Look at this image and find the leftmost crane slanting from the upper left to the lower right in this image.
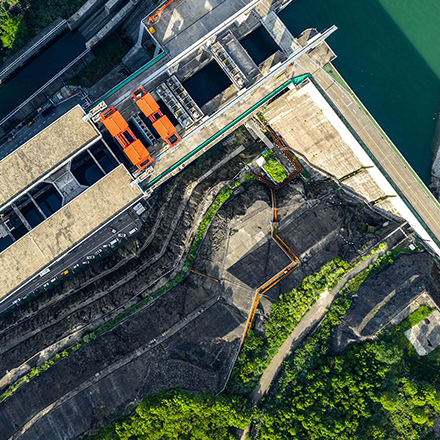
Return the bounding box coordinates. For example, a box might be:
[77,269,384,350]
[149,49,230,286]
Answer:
[98,103,155,175]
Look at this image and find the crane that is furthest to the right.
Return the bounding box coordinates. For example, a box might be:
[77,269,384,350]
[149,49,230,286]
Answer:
[128,84,184,150]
